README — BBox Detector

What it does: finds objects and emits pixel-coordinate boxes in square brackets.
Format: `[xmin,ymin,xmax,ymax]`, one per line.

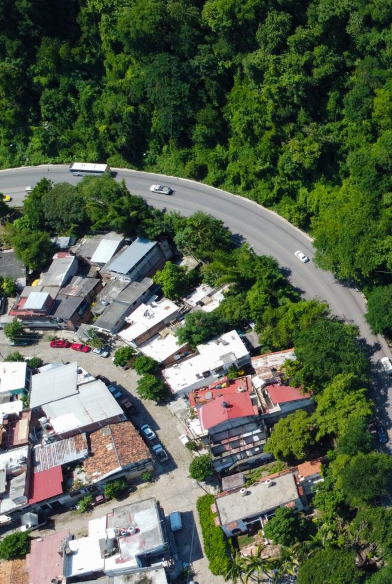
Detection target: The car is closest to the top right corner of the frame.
[293,251,311,265]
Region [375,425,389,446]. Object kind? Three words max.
vehicle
